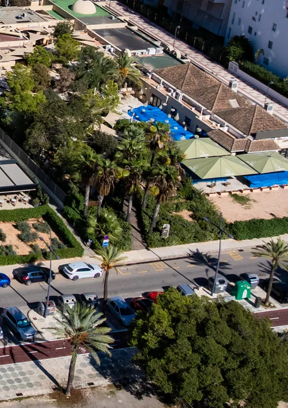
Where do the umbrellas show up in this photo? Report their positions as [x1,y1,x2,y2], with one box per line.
[175,138,230,162]
[236,151,288,175]
[185,156,258,186]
